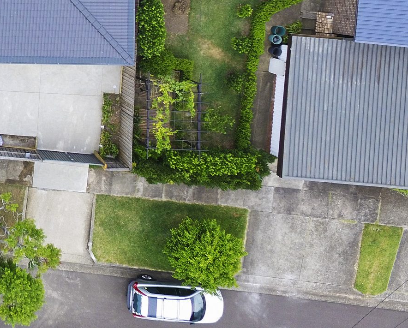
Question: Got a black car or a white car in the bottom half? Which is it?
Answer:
white car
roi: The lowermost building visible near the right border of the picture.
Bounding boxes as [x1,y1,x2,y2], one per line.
[263,35,408,192]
